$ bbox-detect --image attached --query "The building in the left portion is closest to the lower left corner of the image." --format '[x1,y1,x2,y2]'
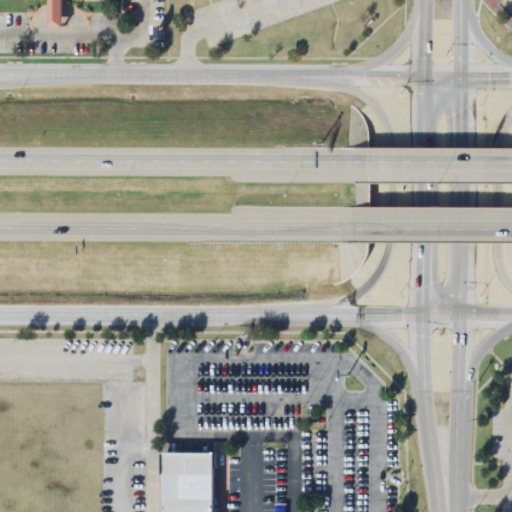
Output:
[160,449,220,512]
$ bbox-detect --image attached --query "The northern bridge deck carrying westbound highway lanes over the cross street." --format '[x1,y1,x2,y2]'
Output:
[352,148,512,182]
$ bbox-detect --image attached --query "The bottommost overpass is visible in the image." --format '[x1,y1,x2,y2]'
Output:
[352,206,512,242]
